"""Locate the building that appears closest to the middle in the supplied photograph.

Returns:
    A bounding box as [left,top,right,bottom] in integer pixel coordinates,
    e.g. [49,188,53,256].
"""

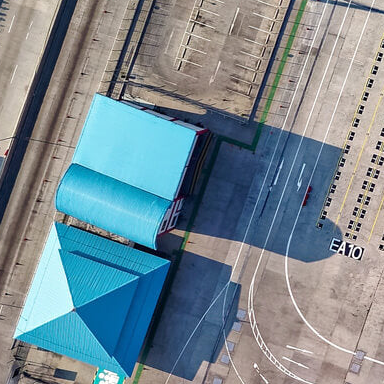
[54,94,222,251]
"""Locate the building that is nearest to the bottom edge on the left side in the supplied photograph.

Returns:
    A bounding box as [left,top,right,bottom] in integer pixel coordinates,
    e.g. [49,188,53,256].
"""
[14,221,171,379]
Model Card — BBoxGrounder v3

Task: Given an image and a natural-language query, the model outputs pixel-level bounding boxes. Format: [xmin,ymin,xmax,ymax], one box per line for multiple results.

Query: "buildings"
[54,94,222,251]
[14,221,171,379]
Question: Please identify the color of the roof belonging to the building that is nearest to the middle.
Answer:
blue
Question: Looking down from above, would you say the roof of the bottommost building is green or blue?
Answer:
blue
